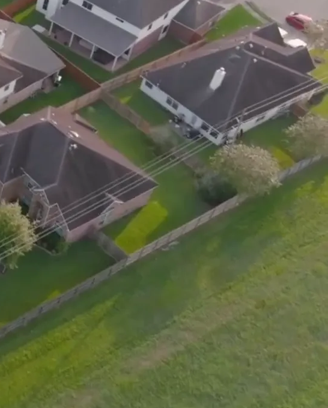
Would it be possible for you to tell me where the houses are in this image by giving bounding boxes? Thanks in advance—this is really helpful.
[35,0,228,72]
[0,103,160,249]
[0,16,71,113]
[139,18,323,150]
